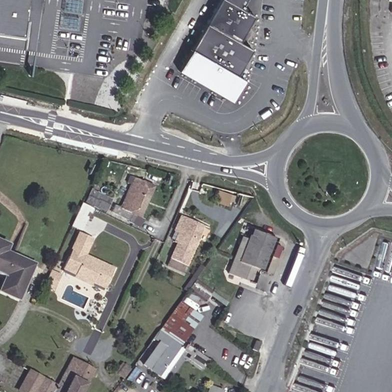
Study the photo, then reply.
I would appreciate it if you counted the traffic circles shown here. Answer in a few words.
1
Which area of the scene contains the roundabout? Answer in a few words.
right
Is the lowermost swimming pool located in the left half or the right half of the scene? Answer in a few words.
left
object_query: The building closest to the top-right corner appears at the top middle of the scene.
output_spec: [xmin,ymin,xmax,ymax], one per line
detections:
[181,0,257,103]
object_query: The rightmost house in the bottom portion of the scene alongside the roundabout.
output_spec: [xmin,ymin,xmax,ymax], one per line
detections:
[229,228,279,280]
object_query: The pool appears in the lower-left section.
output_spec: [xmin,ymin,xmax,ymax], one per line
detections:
[62,285,88,307]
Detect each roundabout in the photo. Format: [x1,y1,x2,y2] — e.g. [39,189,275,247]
[267,114,390,236]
